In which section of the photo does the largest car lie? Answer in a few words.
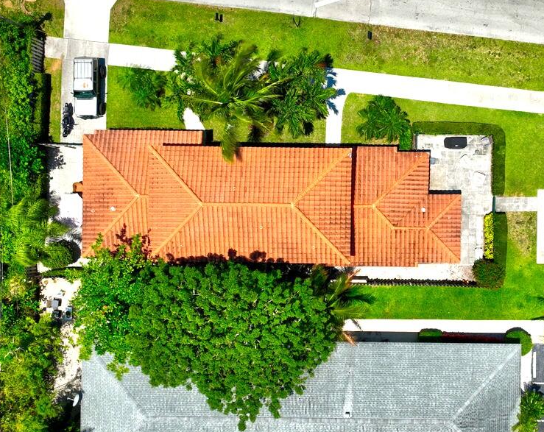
top left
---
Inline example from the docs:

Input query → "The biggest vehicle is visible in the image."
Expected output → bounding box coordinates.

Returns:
[67,54,104,121]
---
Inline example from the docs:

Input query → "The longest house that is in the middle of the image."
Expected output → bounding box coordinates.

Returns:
[72,130,463,268]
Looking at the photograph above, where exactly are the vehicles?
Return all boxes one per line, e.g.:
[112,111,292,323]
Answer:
[55,102,71,136]
[67,54,104,121]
